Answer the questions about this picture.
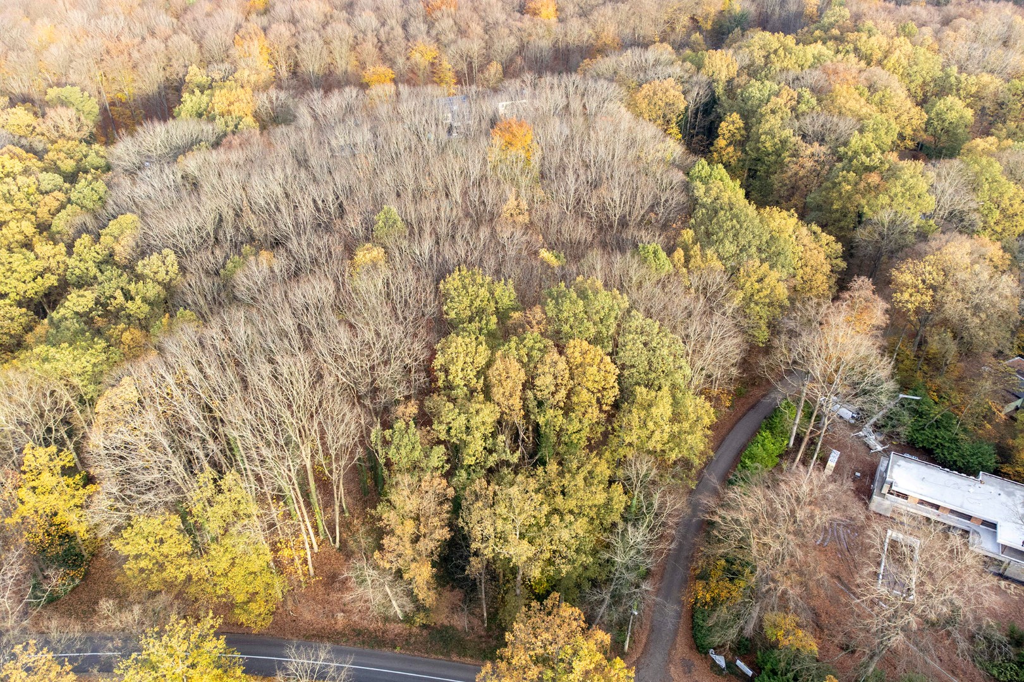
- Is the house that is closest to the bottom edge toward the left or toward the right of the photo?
right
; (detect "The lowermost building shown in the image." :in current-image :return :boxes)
[868,452,1024,579]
